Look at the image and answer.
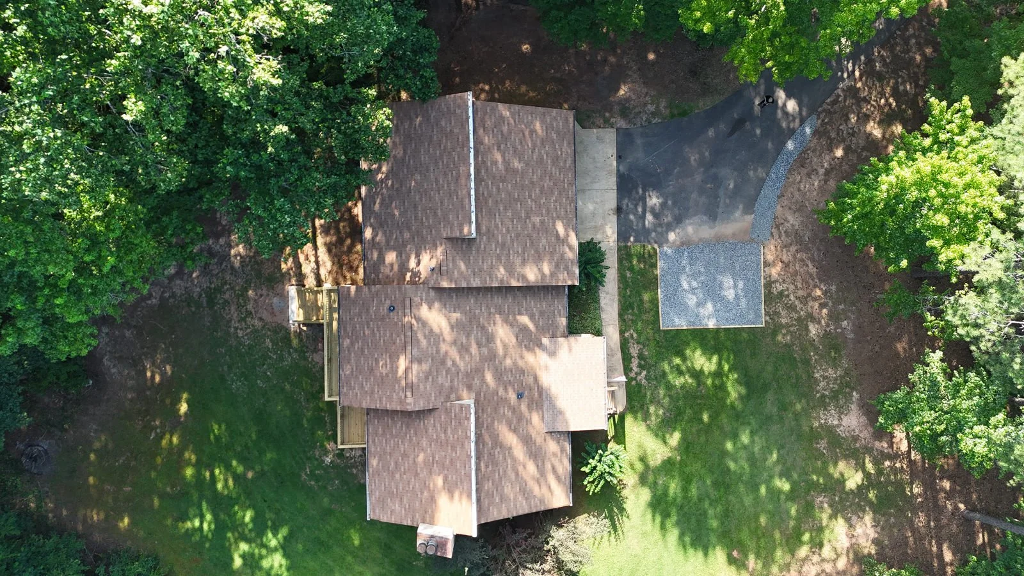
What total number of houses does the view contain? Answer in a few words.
one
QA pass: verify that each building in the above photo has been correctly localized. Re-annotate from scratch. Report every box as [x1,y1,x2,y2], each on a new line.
[335,91,609,558]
